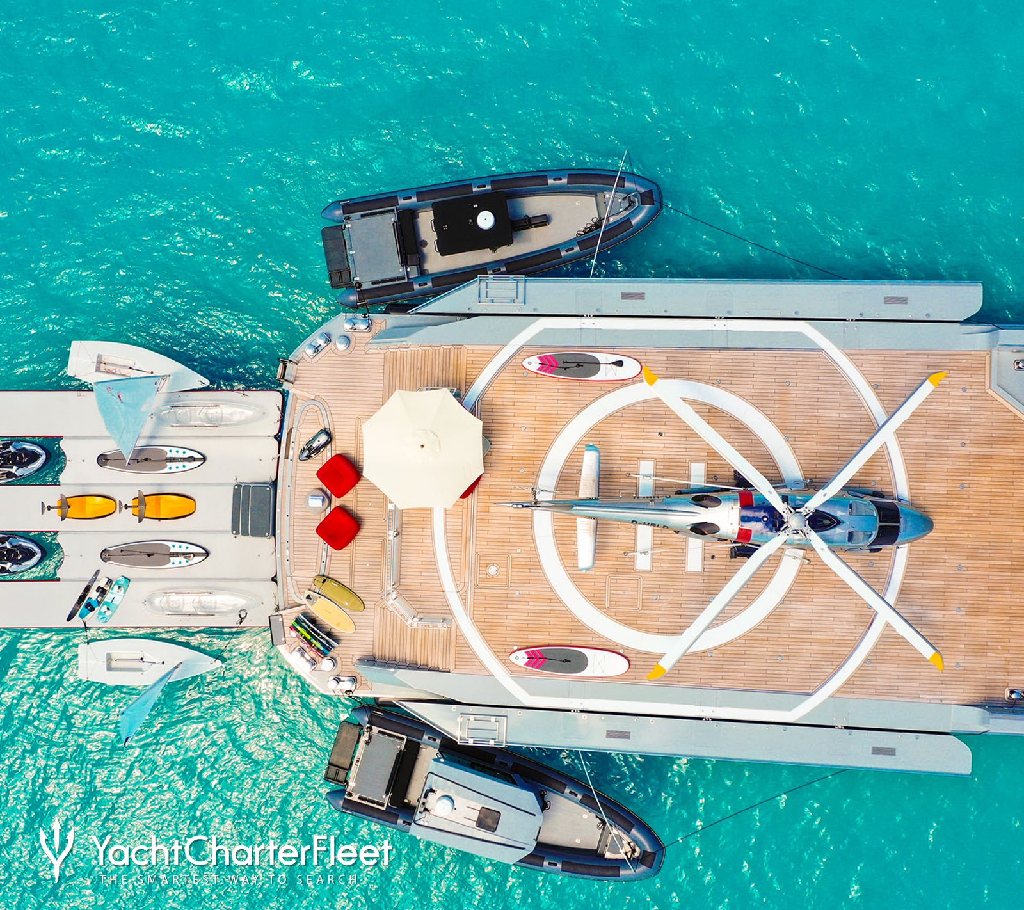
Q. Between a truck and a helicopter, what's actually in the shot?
helicopter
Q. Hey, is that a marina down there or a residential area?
marina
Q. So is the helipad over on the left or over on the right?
right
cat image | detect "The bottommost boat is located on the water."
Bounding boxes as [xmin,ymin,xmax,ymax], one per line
[325,707,665,876]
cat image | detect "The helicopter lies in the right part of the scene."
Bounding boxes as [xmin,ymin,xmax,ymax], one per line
[508,359,952,677]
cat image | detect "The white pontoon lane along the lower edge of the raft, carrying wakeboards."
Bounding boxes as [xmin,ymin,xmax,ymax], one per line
[0,579,281,628]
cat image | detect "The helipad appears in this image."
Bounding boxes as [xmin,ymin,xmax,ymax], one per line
[403,318,1024,721]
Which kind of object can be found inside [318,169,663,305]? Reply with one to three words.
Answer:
boat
